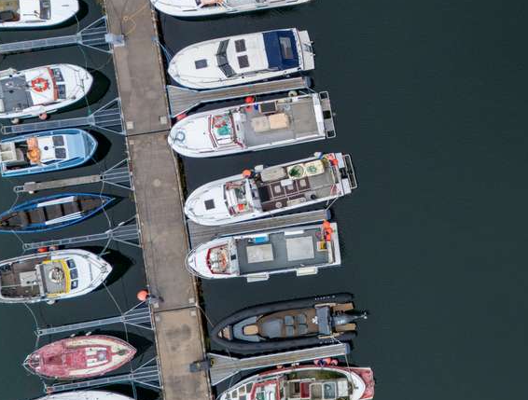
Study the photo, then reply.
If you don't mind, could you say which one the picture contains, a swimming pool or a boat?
boat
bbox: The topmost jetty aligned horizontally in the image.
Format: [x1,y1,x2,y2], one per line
[0,17,112,54]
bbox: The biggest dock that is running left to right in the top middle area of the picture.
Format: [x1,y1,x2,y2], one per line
[169,75,310,117]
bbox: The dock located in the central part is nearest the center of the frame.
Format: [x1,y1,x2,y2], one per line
[188,209,333,249]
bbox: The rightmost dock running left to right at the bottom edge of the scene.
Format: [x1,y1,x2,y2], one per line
[210,342,352,385]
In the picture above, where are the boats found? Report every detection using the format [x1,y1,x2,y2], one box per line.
[183,223,344,282]
[165,91,337,156]
[183,153,357,222]
[20,333,138,380]
[165,27,316,87]
[151,0,307,17]
[0,68,95,119]
[213,292,367,350]
[0,129,99,176]
[219,365,375,400]
[0,0,81,30]
[0,250,115,306]
[0,191,117,233]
